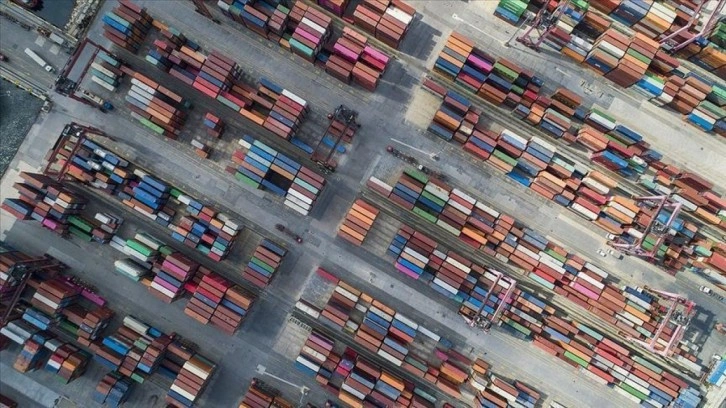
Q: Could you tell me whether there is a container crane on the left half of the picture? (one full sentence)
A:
Yes, I can see a container crane on the left half of the picture.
